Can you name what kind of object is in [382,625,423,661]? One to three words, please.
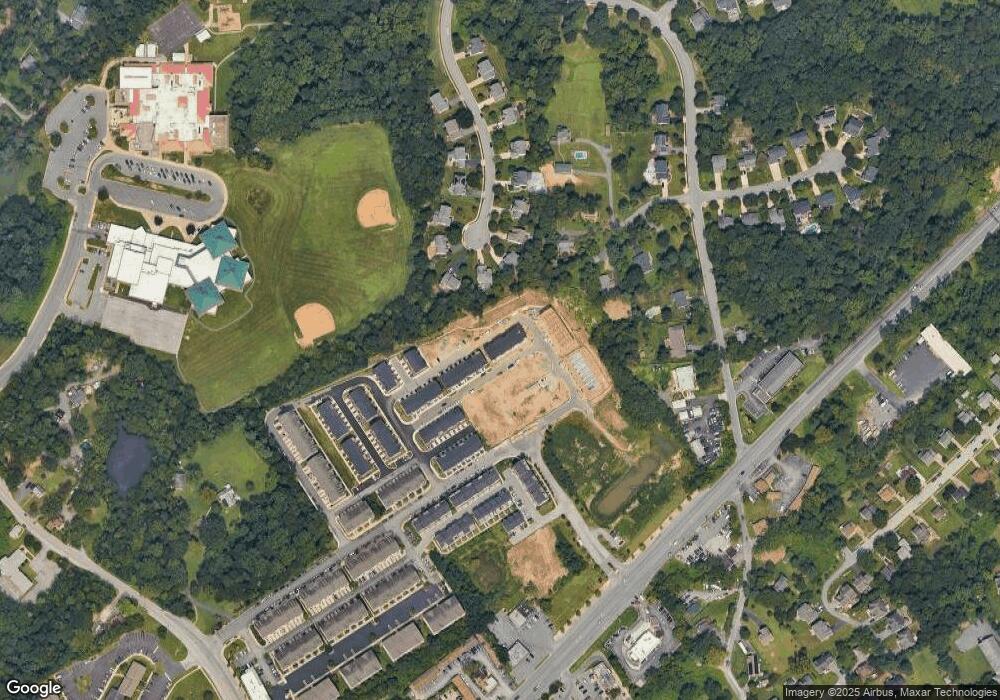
building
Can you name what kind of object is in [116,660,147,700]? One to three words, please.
building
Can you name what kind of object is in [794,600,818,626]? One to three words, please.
house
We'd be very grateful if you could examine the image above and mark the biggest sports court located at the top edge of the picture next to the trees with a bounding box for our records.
[148,2,207,56]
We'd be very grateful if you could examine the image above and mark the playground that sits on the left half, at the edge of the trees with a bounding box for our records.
[218,5,241,31]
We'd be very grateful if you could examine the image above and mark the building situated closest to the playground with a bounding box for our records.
[114,62,229,153]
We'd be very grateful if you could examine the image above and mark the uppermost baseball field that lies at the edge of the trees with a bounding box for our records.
[322,150,400,231]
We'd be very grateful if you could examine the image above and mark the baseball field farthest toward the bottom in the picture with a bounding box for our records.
[294,272,366,347]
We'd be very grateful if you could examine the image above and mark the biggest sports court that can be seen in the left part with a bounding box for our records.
[102,296,188,351]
